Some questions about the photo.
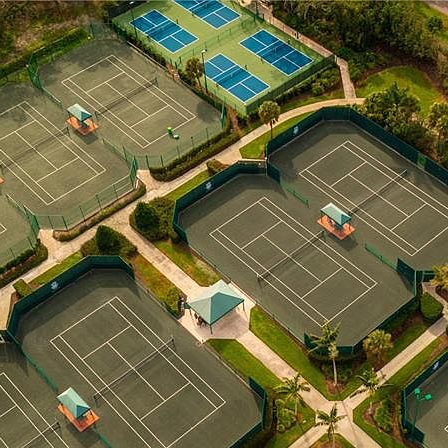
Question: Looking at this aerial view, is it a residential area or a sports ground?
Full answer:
What you see here is a sports ground.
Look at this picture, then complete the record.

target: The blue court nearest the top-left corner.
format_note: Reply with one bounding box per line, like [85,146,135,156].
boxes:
[129,8,199,52]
